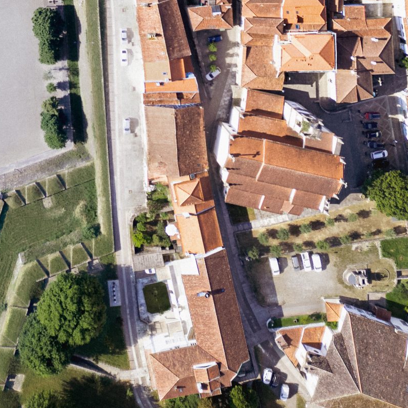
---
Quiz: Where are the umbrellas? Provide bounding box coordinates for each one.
[164,223,177,235]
